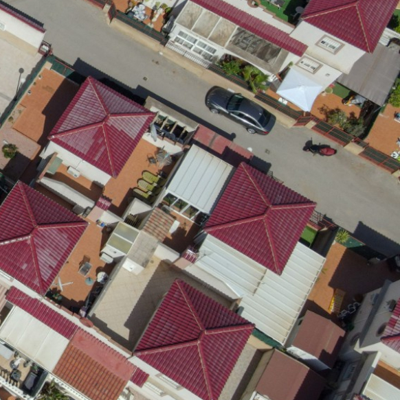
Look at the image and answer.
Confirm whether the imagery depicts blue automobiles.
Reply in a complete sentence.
No, I find no blue automobile anywhere in the image.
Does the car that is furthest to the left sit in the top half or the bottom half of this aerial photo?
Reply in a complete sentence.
The top half of the photo is where the car that is furthest to the left is.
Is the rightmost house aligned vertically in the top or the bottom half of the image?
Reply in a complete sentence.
The rightmost house aligned vertically sits in the bottom half of the picture.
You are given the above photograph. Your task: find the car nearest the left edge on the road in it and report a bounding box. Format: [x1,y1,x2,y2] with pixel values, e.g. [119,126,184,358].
[197,90,278,142]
